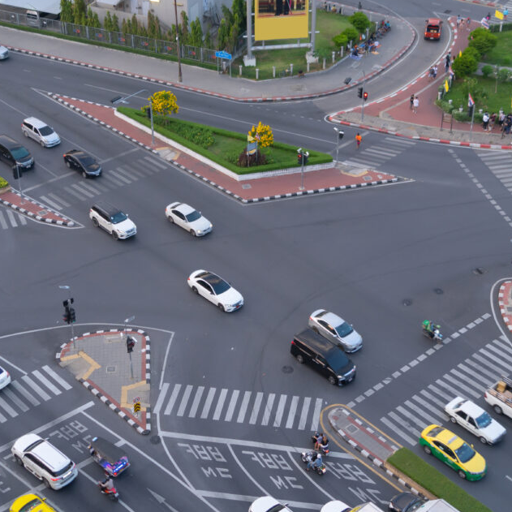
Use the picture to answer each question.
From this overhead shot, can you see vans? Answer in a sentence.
Yes, a van can be made out from above.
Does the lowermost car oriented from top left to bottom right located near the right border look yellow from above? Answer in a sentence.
Yes, the lowermost car oriented from top left to bottom right located near the right border is indeed yellow.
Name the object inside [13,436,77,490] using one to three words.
car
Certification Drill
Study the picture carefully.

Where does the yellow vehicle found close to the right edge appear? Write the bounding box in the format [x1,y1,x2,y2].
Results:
[420,423,487,477]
